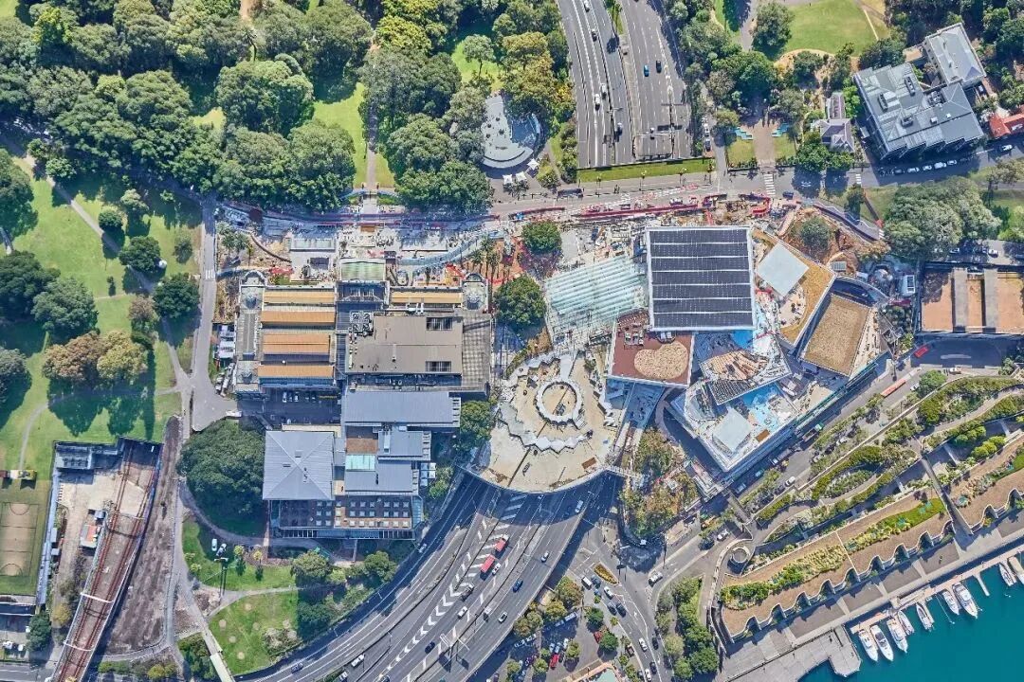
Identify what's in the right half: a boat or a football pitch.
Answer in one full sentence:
Visible in the right half is a boat.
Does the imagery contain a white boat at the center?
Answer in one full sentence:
No, I can find no white boat at the center.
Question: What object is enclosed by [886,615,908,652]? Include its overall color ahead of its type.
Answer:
white boat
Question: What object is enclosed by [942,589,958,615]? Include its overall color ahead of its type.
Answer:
white boat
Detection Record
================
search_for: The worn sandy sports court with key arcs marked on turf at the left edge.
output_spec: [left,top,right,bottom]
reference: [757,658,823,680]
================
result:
[0,479,45,596]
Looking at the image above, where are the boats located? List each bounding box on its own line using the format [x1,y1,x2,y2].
[997,561,1013,588]
[886,615,908,652]
[858,627,877,658]
[1007,552,1024,584]
[942,589,958,615]
[914,602,932,632]
[896,607,914,635]
[952,579,975,618]
[870,623,893,660]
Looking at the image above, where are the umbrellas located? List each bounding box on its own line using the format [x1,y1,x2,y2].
[501,172,513,185]
[514,170,527,182]
[525,156,541,171]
